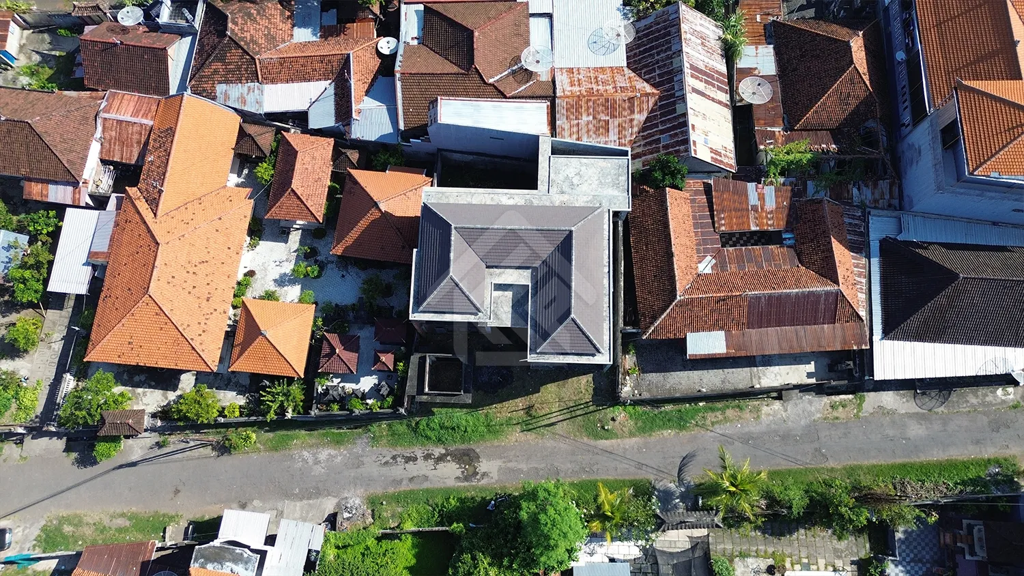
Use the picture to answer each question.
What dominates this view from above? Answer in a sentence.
Most of the picture is covered by buildings.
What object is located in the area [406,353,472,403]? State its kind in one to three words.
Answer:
shed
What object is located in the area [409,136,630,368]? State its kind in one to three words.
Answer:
house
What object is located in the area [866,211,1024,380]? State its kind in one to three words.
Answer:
house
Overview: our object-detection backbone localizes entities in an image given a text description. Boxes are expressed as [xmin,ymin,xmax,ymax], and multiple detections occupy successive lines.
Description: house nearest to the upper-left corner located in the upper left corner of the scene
[0,11,38,71]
